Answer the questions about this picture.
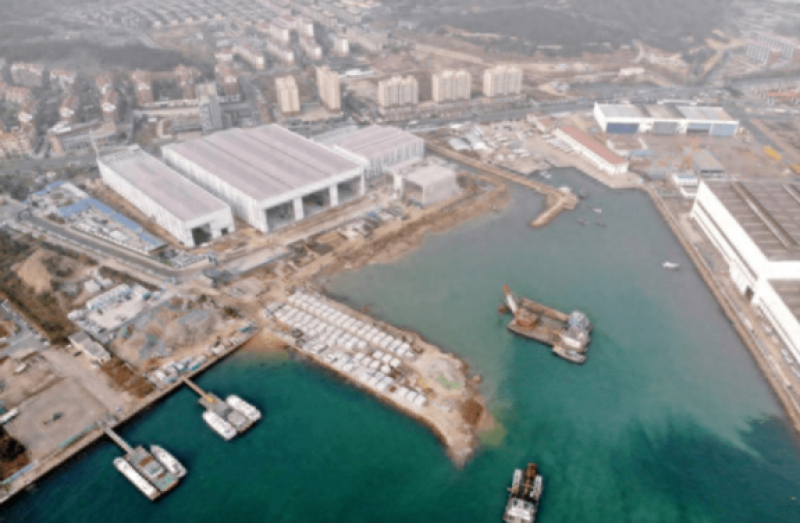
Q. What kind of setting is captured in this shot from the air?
port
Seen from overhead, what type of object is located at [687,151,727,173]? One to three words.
shed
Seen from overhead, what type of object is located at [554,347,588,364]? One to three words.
boat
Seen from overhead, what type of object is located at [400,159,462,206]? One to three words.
building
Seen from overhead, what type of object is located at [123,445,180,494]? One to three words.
pier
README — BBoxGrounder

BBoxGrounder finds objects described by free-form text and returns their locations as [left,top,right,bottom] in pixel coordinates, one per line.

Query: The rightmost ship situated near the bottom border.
[503,468,540,523]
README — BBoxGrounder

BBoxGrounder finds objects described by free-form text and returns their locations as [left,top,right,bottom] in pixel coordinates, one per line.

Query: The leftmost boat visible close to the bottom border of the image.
[112,458,160,502]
